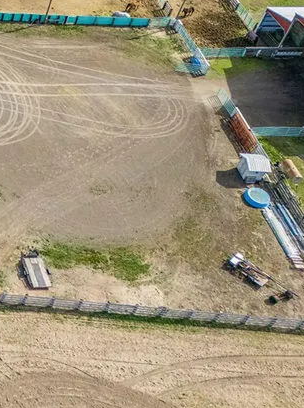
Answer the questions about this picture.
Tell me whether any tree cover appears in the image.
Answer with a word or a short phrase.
No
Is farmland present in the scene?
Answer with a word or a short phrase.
Yes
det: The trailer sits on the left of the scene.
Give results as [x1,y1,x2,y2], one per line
[23,242,58,292]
